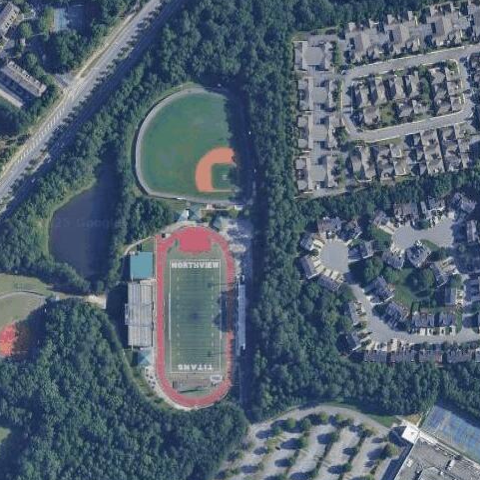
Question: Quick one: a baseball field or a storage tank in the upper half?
baseball field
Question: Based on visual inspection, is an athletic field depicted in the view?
Yes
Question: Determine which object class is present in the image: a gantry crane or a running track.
running track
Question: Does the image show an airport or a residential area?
residential area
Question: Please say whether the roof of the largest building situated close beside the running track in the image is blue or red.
blue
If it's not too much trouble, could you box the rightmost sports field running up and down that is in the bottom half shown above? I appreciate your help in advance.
[164,240,226,401]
